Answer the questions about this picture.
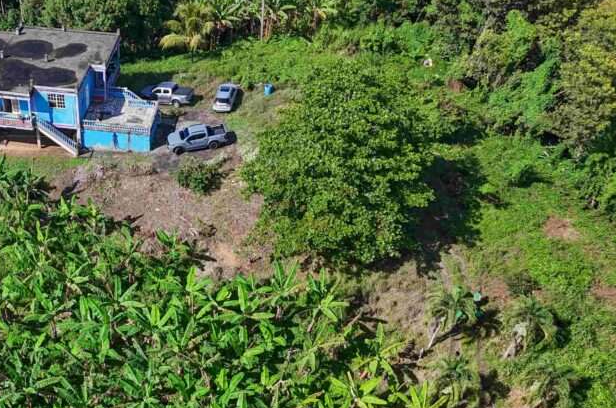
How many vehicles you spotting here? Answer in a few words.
3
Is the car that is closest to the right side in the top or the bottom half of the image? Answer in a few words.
top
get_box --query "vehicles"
[164,123,234,157]
[209,83,241,111]
[133,75,195,105]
